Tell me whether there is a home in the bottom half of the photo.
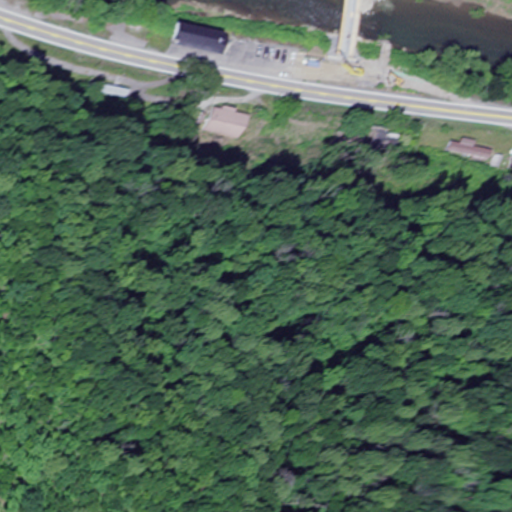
No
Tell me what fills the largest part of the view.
trees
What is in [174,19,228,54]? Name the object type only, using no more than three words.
building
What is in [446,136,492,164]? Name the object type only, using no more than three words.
house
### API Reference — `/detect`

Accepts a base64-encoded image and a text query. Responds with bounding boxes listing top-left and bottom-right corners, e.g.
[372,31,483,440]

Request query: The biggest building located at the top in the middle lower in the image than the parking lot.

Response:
[201,103,246,140]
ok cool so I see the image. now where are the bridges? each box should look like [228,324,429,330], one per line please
[334,0,359,60]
